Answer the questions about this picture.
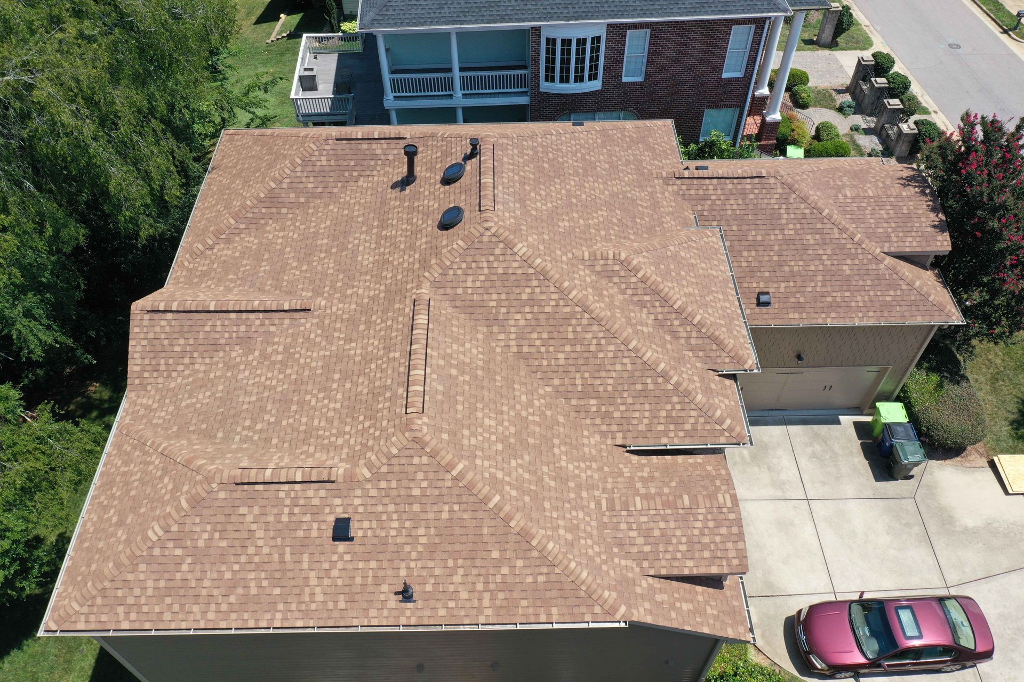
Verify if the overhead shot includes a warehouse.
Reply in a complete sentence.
No, the scene contains no warehouse.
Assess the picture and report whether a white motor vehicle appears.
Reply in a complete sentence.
No, the frame has no white motor vehicle in it.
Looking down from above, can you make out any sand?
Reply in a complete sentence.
No, the scene doesn't show any sand.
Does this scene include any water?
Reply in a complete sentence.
No, there is no water in the image.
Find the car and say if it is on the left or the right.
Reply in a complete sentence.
The car appears in the right half of the scene.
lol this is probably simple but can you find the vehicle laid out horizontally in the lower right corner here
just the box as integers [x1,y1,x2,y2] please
[795,588,999,681]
